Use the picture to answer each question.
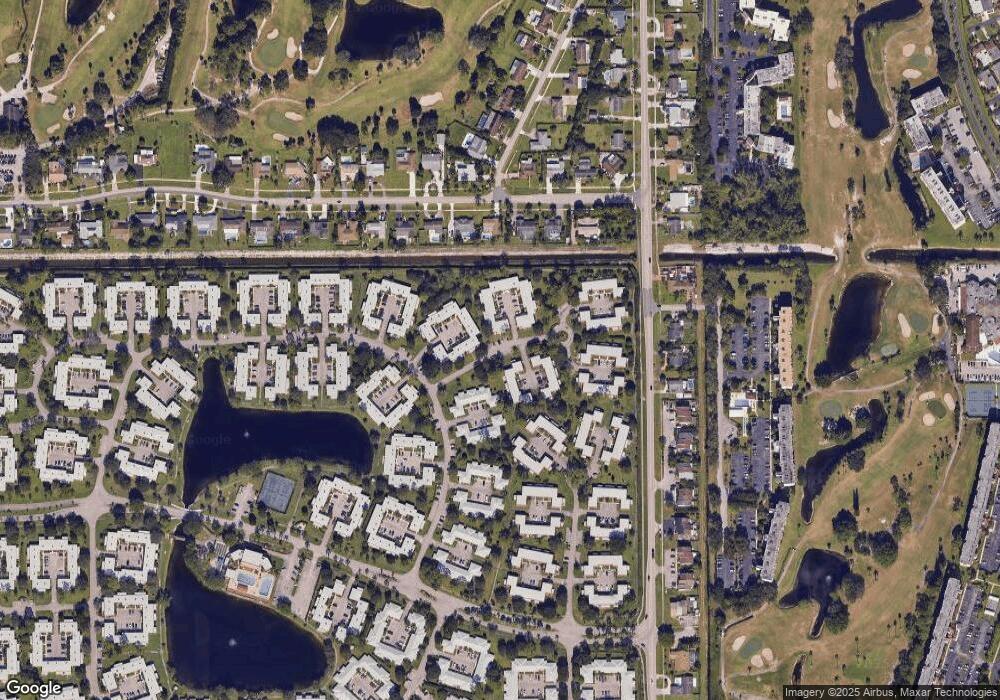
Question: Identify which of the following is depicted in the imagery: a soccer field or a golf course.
golf course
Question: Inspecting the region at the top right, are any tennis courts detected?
No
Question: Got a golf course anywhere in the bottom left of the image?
No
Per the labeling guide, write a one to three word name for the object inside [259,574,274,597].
swimming pool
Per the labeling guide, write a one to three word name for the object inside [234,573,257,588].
swimming pool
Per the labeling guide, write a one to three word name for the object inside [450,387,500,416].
building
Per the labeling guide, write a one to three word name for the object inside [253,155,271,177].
house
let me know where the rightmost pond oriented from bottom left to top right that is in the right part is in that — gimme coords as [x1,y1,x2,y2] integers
[802,398,887,522]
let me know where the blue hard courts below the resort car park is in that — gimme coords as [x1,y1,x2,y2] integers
[967,386,995,416]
